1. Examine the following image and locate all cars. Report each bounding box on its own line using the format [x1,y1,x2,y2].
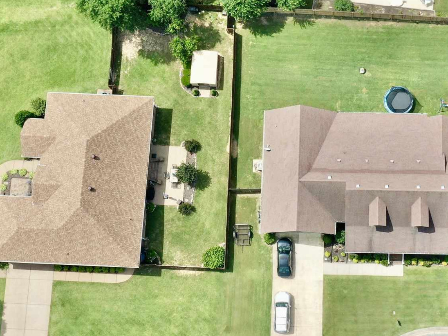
[272,292,292,334]
[274,238,293,277]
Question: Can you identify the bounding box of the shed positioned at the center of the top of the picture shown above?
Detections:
[190,50,219,90]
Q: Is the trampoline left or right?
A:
right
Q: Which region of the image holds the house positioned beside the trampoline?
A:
right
